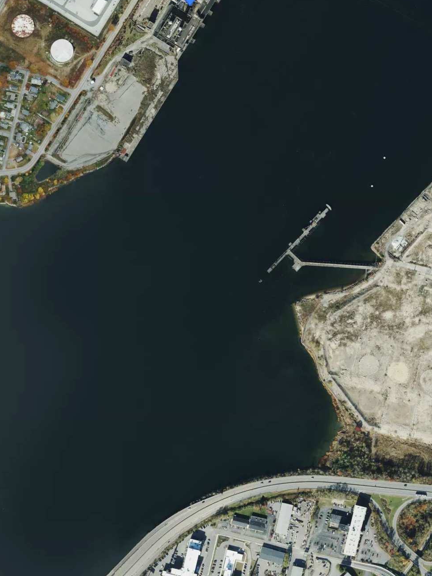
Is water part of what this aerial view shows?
Yes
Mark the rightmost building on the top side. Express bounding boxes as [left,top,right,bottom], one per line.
[153,0,215,50]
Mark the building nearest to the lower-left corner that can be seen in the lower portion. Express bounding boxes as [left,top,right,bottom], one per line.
[163,539,202,576]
